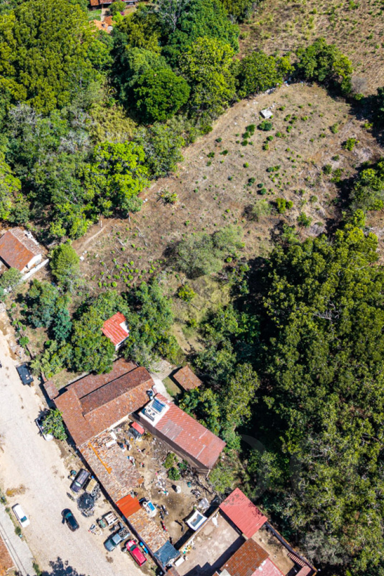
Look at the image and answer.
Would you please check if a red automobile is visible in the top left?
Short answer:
No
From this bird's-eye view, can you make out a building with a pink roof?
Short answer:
Yes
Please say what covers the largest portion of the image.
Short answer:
trees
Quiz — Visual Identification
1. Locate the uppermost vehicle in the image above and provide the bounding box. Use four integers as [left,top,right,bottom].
[16,361,32,386]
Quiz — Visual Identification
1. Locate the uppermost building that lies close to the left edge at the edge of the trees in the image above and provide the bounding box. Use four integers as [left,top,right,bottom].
[0,229,44,278]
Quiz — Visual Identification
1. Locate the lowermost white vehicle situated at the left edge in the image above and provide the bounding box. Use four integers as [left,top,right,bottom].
[12,502,30,530]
